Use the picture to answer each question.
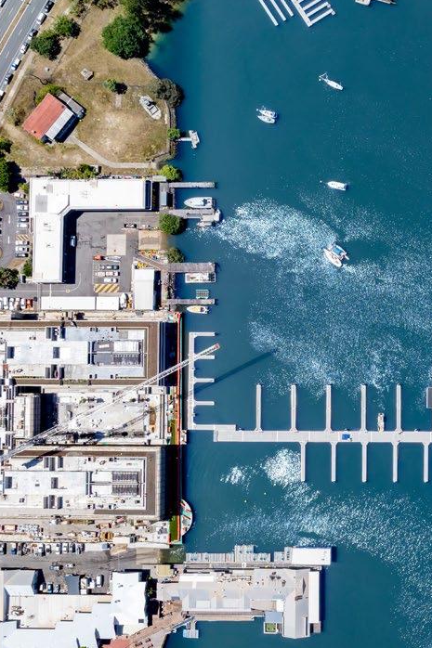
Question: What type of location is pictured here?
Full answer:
It's a port.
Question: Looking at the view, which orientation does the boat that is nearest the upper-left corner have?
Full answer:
The boat that is nearest the upper-left corner has been laid out on a diagonal relative to the frame.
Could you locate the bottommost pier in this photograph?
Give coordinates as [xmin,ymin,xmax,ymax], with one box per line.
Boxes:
[158,563,321,638]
